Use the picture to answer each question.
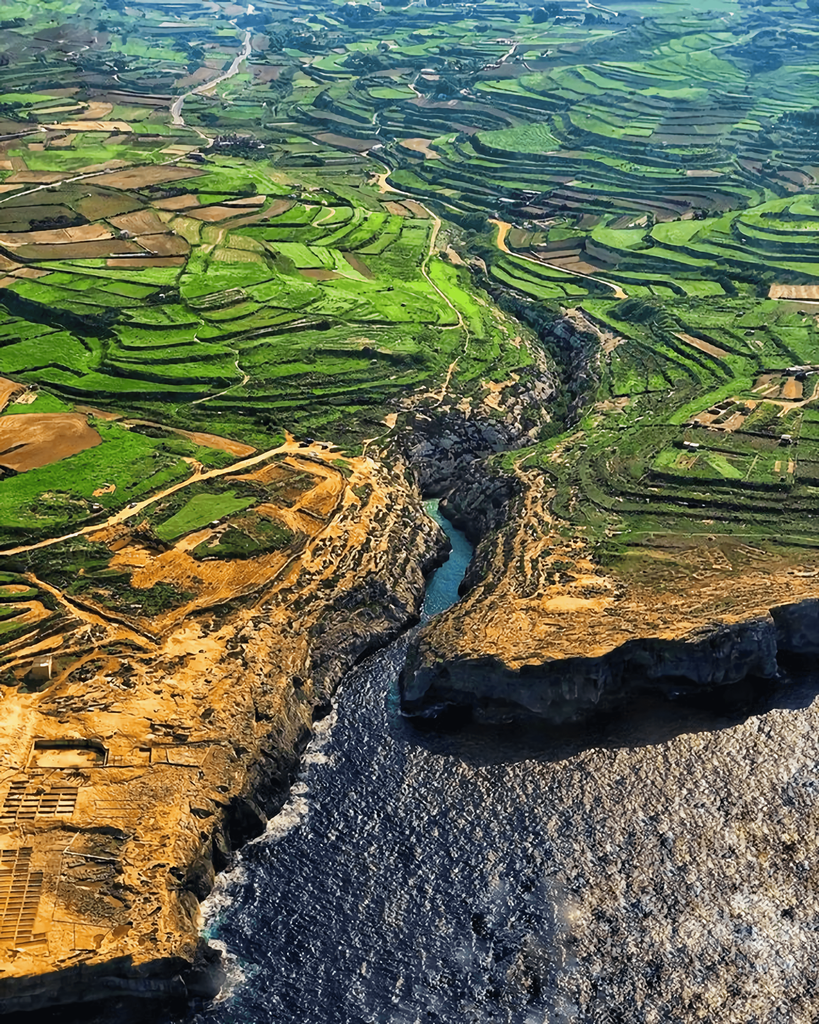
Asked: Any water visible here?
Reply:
Yes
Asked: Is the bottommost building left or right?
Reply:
left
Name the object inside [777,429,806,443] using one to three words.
shed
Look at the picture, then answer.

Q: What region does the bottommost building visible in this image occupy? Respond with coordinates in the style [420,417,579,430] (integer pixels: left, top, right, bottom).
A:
[27,653,53,676]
